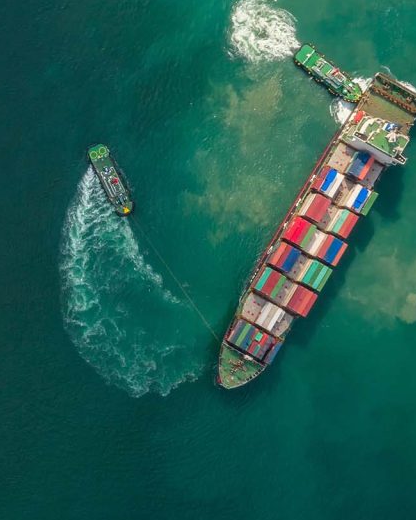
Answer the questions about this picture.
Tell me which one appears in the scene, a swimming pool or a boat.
boat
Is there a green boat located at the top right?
Yes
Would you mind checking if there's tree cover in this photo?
No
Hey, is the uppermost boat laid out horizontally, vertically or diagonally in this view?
diagonally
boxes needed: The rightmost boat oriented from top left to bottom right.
[292,42,363,104]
